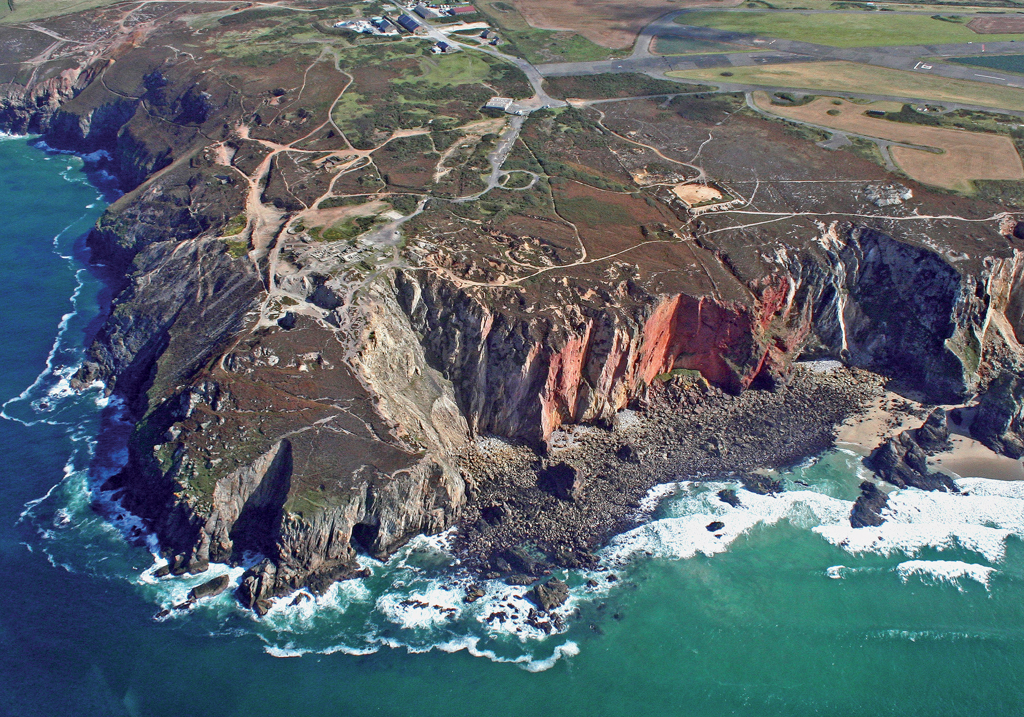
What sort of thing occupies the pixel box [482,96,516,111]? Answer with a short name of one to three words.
hangar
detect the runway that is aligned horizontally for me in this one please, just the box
[534,7,1024,117]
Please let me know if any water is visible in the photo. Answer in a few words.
Yes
